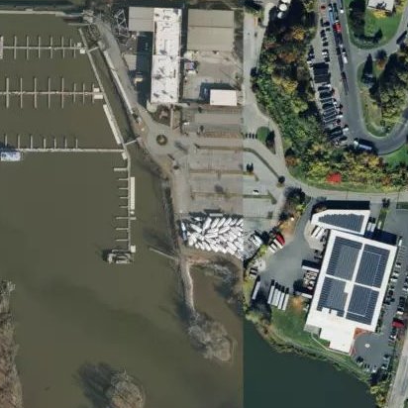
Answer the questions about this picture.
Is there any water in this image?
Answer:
Yes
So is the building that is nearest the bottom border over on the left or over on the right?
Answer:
right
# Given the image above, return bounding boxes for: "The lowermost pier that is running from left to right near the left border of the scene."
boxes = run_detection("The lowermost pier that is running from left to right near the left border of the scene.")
[0,135,124,151]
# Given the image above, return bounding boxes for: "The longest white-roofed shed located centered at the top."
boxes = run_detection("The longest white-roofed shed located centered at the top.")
[150,7,181,102]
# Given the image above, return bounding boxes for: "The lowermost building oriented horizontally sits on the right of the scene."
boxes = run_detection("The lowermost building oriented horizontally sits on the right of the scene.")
[312,209,371,235]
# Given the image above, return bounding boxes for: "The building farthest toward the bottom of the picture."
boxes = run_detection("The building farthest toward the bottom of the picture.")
[305,230,398,355]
